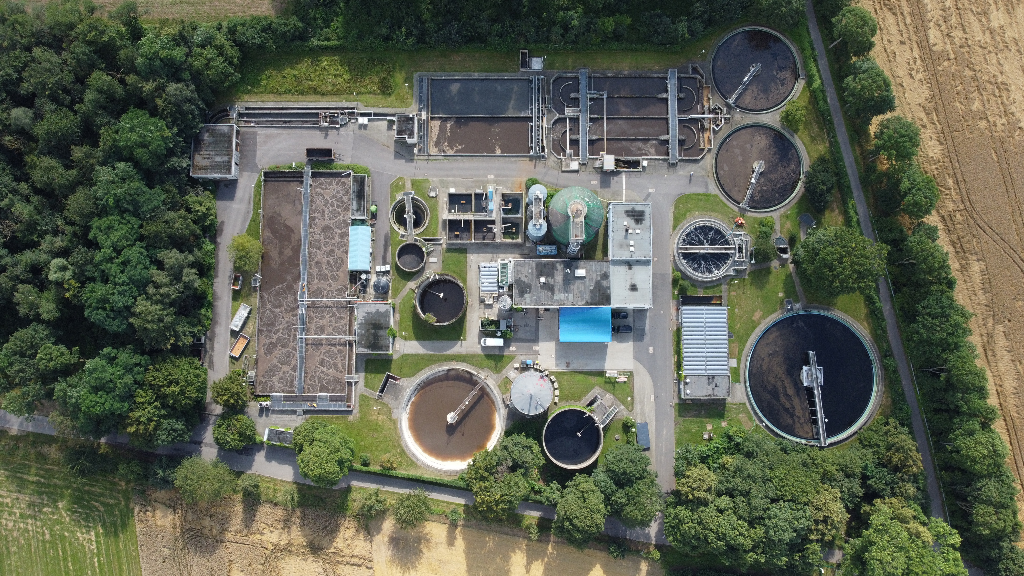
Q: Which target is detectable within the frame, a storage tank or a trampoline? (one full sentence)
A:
Of the two, only a storage tank appears.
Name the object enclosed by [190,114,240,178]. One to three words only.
shed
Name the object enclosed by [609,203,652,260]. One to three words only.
building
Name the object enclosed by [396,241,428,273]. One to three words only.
storage tank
